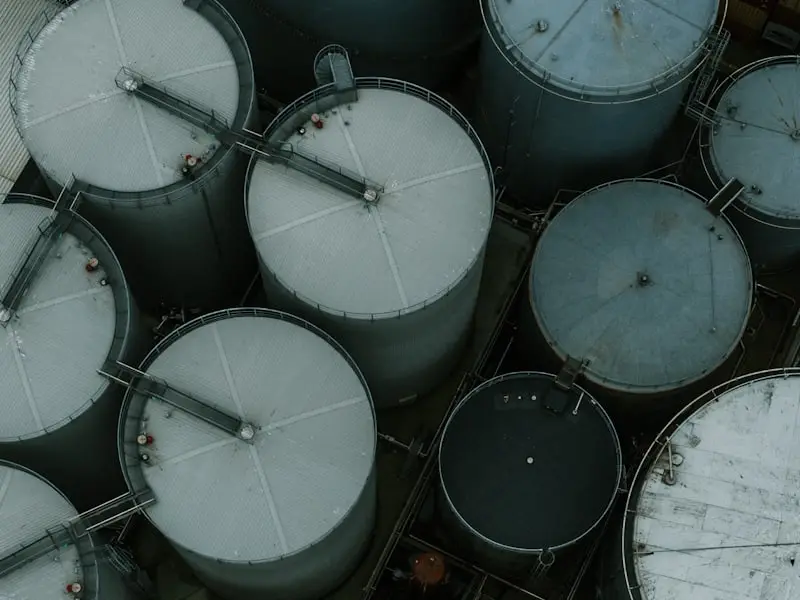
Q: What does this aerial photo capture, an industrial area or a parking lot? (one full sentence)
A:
The area seen from above is an industrial area.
